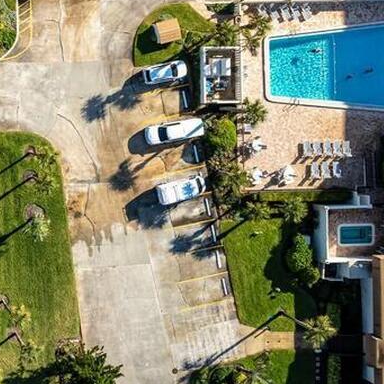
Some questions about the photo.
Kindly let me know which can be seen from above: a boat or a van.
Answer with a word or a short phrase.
van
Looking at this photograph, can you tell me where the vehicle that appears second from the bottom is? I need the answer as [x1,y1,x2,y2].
[142,118,205,145]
